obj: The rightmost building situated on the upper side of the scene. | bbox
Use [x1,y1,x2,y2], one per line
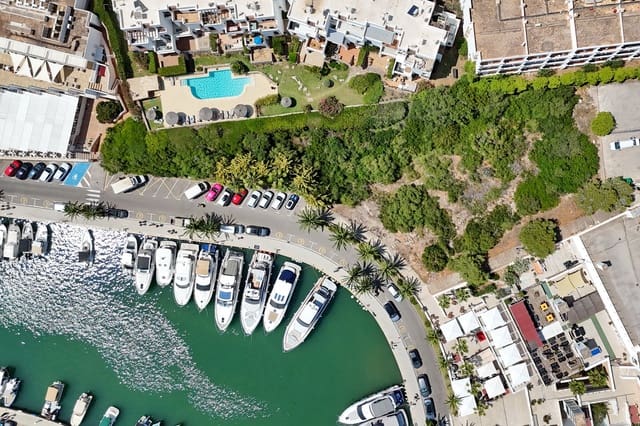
[458,0,640,76]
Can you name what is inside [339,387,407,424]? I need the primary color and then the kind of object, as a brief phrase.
white boat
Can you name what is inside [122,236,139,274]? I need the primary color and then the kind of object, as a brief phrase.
white boat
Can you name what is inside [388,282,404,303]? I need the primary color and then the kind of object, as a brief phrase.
white car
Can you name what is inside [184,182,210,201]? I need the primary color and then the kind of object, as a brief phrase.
white vehicle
